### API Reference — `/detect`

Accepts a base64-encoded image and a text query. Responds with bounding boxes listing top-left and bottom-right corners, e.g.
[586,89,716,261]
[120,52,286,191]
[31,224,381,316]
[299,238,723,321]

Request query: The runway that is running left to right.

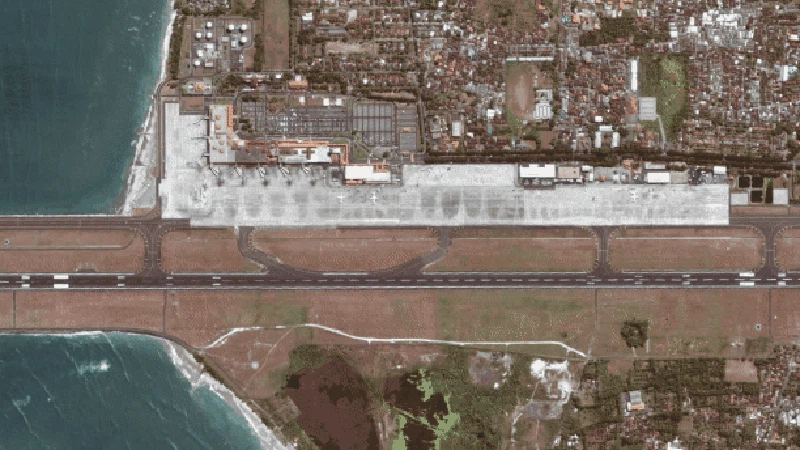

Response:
[0,270,800,291]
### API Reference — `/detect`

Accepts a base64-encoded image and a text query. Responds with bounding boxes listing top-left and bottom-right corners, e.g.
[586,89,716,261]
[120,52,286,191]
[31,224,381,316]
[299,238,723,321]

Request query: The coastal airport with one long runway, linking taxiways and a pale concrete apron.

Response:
[0,102,800,291]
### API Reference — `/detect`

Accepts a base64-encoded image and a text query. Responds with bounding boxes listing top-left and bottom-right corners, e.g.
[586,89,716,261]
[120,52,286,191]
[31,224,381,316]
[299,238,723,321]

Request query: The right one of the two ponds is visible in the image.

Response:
[384,370,462,450]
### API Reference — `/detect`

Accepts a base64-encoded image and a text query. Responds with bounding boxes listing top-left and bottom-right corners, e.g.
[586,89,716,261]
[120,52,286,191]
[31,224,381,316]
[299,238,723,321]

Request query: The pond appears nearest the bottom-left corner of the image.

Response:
[284,357,380,450]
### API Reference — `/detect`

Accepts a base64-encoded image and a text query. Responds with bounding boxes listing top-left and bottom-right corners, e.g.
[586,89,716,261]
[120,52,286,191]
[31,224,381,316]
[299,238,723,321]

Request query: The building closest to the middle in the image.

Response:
[345,164,391,184]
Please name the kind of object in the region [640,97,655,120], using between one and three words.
building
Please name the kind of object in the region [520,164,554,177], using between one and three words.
hangar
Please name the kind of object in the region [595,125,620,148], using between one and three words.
building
